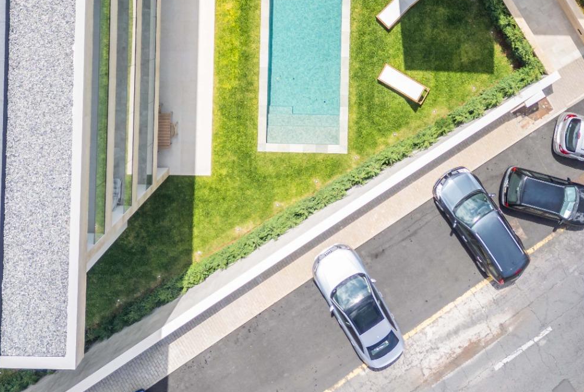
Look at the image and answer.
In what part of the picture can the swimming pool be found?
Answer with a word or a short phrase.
top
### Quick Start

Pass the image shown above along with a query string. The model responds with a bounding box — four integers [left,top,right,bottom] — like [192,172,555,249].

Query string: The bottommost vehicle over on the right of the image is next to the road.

[313,239,405,371]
